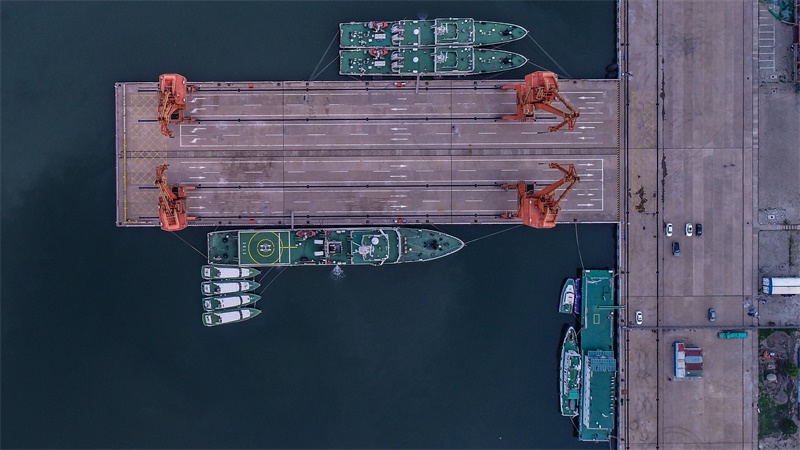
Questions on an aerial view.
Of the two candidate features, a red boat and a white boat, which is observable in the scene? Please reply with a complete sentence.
The one in the frame is a white boat.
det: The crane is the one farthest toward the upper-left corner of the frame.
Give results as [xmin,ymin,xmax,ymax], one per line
[155,73,198,139]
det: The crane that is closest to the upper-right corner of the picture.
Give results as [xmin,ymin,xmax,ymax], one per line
[498,72,588,137]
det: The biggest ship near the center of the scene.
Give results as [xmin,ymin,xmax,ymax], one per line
[208,228,465,267]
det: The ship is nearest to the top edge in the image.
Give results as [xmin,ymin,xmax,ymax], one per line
[340,18,529,48]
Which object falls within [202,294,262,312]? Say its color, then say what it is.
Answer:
white boat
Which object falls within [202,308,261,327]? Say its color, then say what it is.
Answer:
white boat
